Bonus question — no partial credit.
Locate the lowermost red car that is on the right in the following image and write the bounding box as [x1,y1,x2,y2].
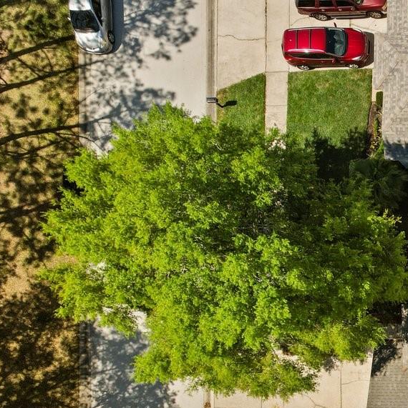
[284,26,370,73]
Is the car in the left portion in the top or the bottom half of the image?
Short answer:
top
